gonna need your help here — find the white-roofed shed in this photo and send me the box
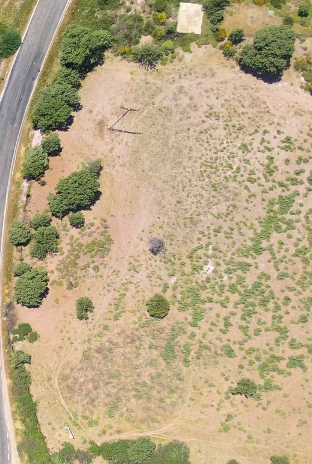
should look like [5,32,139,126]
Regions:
[171,2,203,37]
